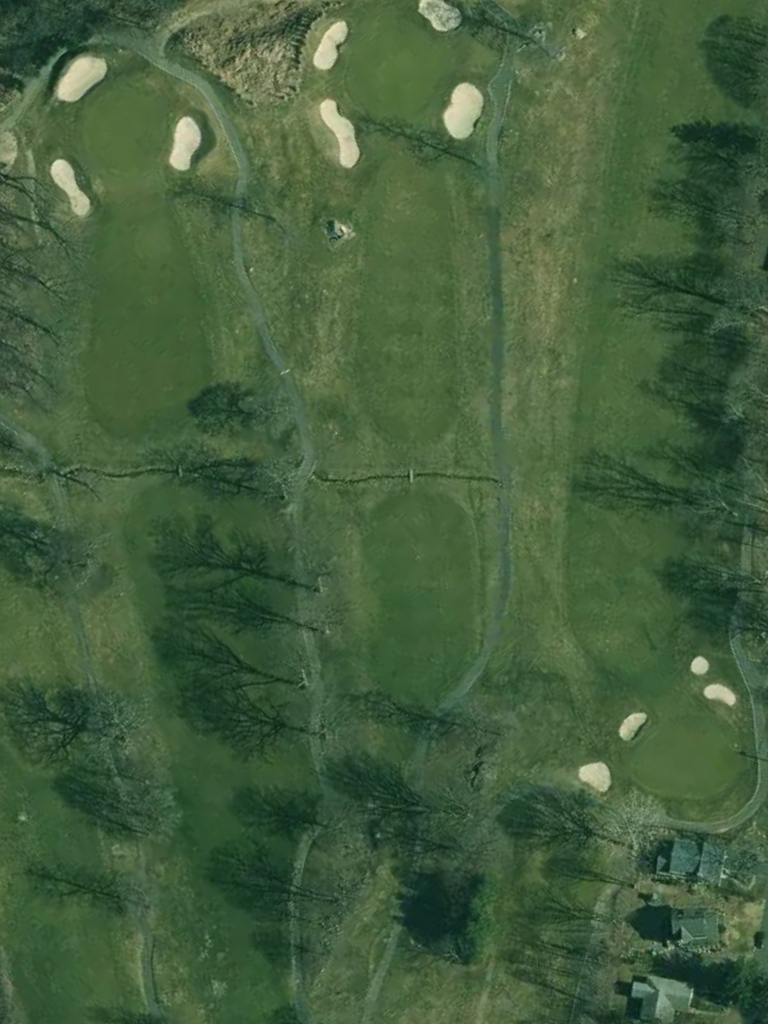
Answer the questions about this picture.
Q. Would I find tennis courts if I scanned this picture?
No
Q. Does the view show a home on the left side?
No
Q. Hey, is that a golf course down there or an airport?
golf course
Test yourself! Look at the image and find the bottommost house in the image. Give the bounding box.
[625,975,693,1024]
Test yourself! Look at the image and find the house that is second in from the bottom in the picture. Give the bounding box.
[670,905,723,952]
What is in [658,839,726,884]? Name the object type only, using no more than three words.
house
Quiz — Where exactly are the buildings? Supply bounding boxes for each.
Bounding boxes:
[670,905,723,952]
[658,839,726,884]
[625,975,693,1024]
